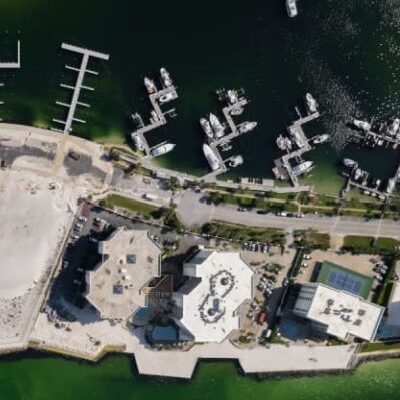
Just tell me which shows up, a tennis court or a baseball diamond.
tennis court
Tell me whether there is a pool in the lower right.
Yes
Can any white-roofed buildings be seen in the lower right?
Yes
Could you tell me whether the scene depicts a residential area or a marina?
marina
